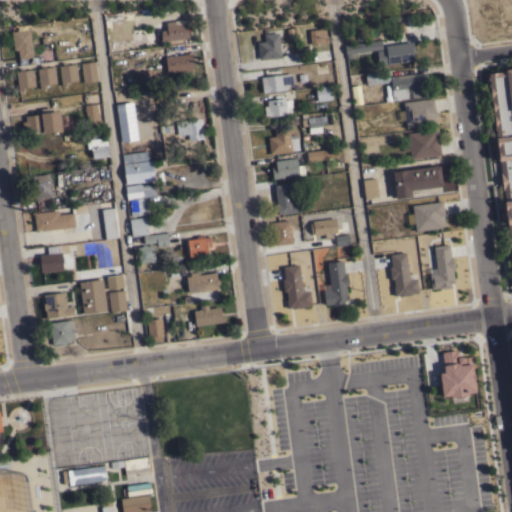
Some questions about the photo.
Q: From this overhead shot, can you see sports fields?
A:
Yes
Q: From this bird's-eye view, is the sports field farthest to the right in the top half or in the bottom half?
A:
bottom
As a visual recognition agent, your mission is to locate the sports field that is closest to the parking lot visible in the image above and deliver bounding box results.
[156,372,256,461]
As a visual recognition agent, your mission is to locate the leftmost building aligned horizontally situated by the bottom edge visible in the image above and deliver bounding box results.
[68,467,107,488]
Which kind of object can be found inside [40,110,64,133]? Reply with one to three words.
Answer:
house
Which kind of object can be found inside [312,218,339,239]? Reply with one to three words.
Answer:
house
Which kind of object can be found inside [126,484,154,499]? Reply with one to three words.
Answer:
building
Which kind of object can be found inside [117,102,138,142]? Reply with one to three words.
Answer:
shed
